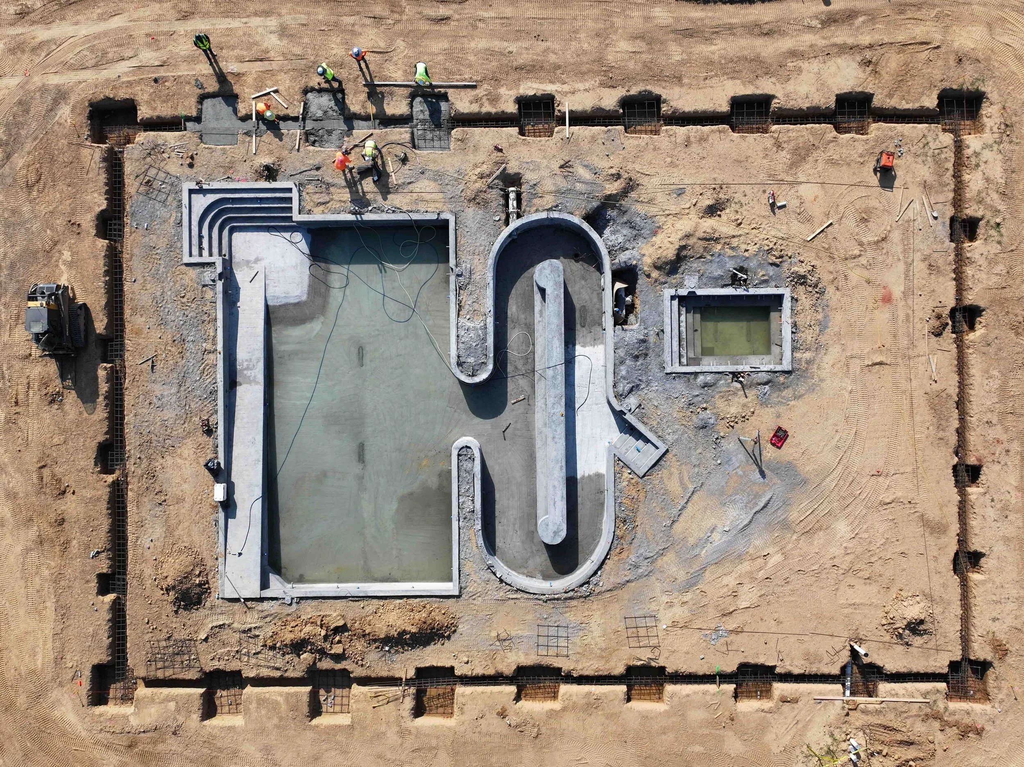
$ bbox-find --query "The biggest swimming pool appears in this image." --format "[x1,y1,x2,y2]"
[182,182,669,597]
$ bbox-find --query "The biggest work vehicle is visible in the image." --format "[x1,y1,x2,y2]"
[21,283,92,358]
